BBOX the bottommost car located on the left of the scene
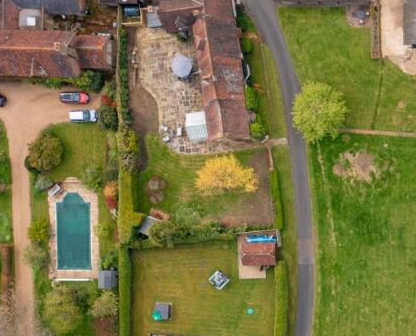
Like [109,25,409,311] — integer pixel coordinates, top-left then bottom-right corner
[69,109,100,124]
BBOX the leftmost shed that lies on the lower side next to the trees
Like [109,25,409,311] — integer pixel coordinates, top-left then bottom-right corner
[96,272,120,288]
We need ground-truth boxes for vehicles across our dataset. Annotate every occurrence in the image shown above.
[69,109,100,124]
[60,91,91,105]
[0,94,10,110]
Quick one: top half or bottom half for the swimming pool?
bottom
